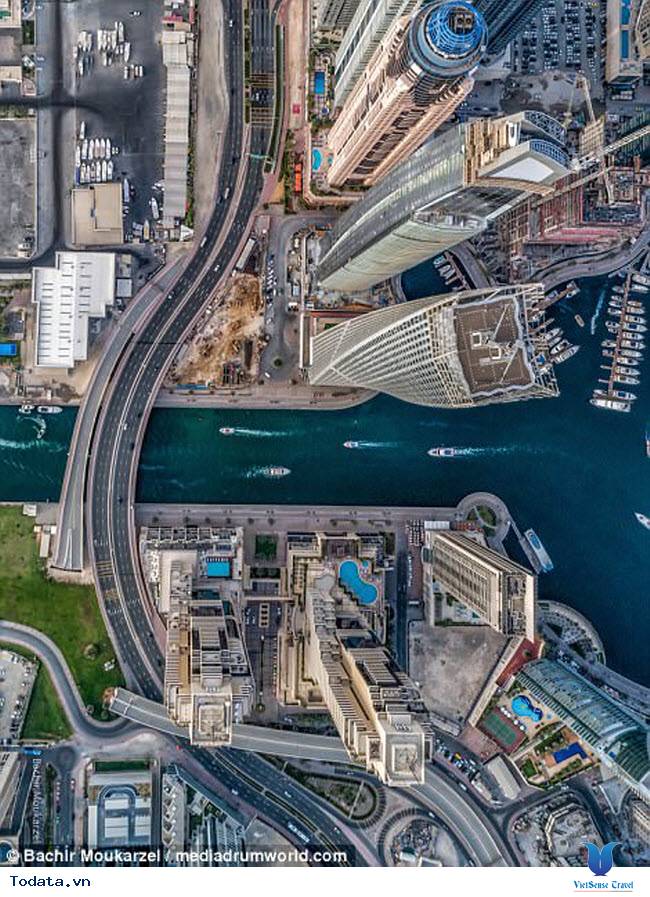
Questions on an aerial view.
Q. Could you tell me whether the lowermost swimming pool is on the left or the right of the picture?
right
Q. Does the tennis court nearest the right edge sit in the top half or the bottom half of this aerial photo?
bottom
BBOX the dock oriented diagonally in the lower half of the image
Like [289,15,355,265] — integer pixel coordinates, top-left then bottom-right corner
[508,519,540,573]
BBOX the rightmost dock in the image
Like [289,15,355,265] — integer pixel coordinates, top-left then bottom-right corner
[604,262,634,397]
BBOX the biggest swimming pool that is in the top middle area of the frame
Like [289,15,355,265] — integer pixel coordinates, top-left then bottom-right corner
[314,72,326,94]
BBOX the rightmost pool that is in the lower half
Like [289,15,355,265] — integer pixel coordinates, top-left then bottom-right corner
[552,741,588,763]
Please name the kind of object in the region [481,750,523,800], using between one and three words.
building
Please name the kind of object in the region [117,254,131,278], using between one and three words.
shed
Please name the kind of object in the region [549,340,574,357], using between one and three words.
boat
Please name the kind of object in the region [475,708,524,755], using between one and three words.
tennis court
